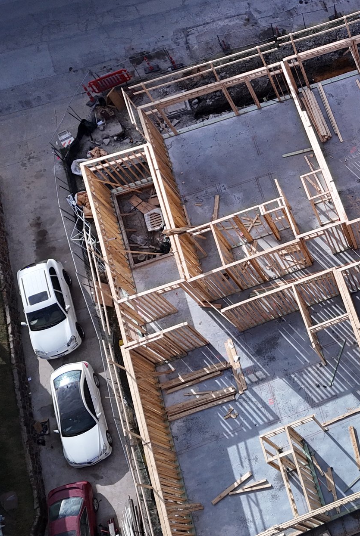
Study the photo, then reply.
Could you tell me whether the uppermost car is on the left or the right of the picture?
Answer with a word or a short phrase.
left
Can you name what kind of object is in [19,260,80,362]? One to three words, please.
car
